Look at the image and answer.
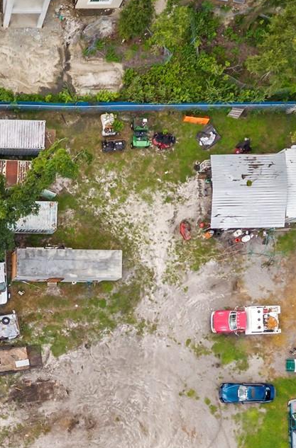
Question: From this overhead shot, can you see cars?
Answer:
Yes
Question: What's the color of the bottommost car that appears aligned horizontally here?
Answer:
blue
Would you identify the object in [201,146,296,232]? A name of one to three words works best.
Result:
shed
